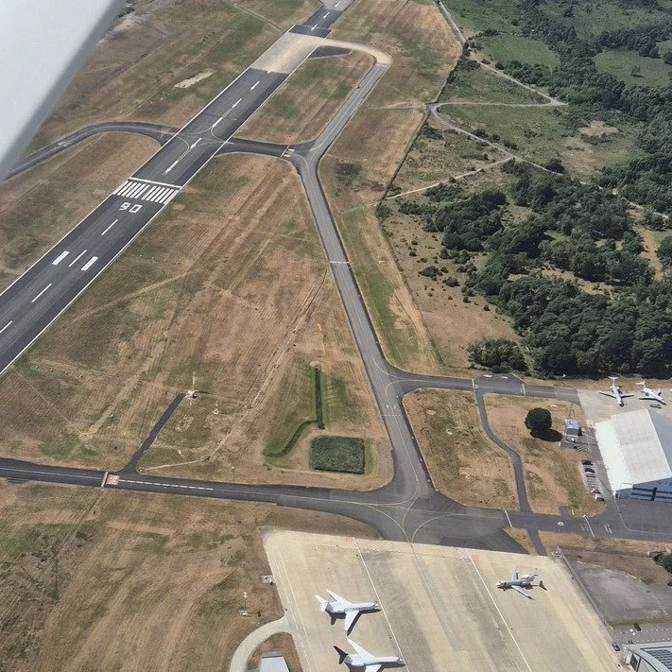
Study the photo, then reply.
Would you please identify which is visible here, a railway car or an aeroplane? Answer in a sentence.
It is an aeroplane that can be seen here.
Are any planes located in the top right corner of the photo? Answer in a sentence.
No, no plane appears in the top right corner of the photo.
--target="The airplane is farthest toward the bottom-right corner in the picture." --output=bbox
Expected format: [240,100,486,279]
[498,570,546,597]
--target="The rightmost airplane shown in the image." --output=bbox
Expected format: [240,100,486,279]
[633,373,667,404]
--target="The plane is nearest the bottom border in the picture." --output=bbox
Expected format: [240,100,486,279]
[337,635,405,672]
